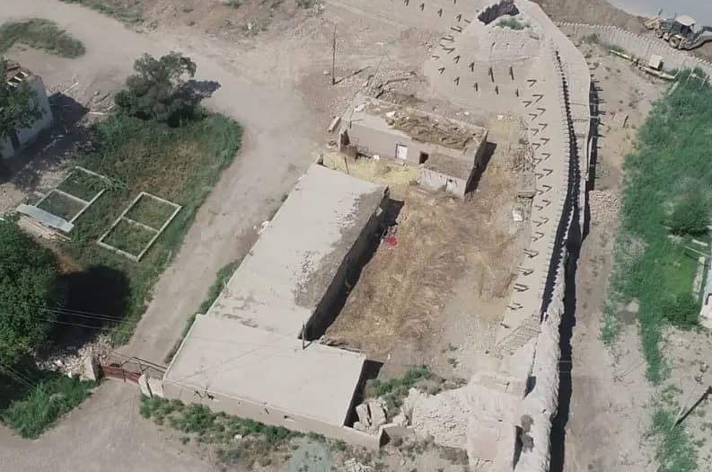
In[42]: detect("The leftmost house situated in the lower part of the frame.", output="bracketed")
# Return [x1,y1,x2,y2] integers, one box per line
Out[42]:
[161,164,400,443]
